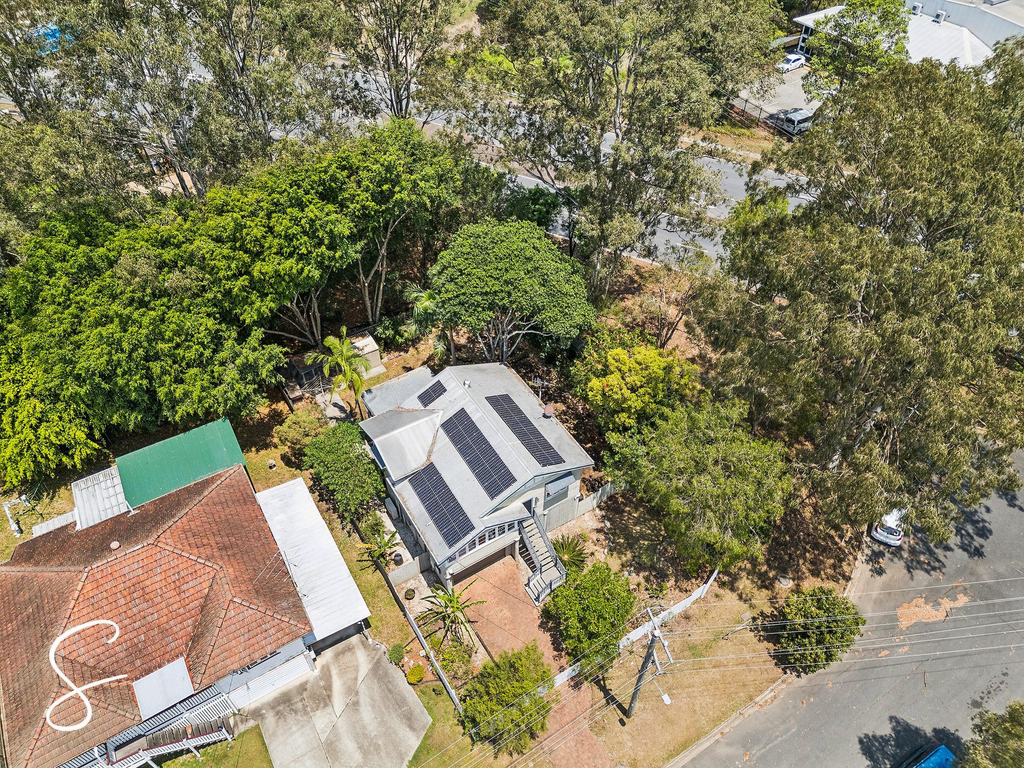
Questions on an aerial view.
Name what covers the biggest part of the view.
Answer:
trees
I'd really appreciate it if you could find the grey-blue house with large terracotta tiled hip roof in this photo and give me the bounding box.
[0,416,372,768]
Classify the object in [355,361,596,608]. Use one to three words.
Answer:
house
